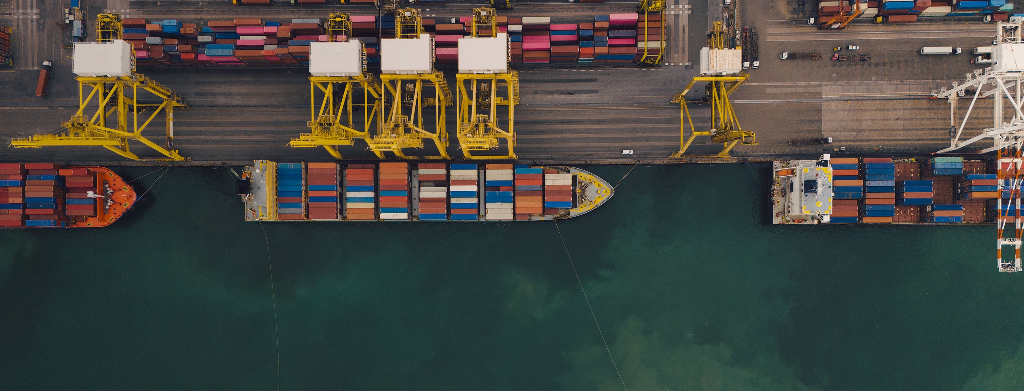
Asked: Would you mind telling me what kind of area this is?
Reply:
port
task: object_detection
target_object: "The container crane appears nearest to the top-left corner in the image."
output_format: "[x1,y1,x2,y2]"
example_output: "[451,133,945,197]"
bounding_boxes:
[3,13,189,161]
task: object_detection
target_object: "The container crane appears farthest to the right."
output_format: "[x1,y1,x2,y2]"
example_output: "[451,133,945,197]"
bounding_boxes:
[927,15,1024,272]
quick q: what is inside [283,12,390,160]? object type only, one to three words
container crane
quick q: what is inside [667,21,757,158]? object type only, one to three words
container crane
